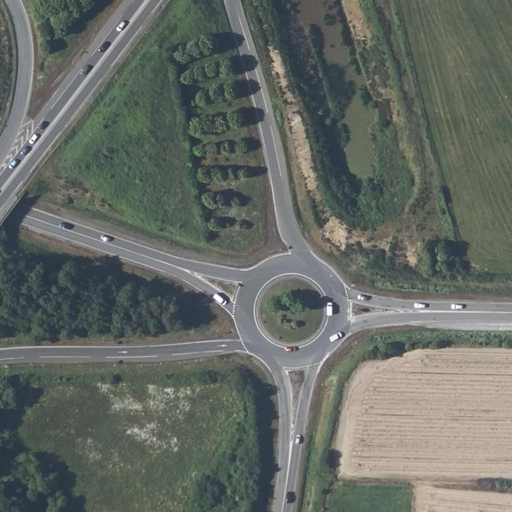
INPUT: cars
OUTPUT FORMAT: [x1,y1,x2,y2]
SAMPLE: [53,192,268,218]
[10,159,19,170]
[29,134,38,144]
[21,146,30,156]
[60,222,72,229]
[101,235,112,242]
[414,303,426,308]
[117,20,126,30]
[451,304,462,309]
[82,64,91,76]
[356,294,368,300]
[286,492,292,503]
[100,42,109,52]
[285,346,294,352]
[39,120,48,131]
[294,434,300,444]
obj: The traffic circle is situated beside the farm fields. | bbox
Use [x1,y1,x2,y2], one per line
[234,252,351,368]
